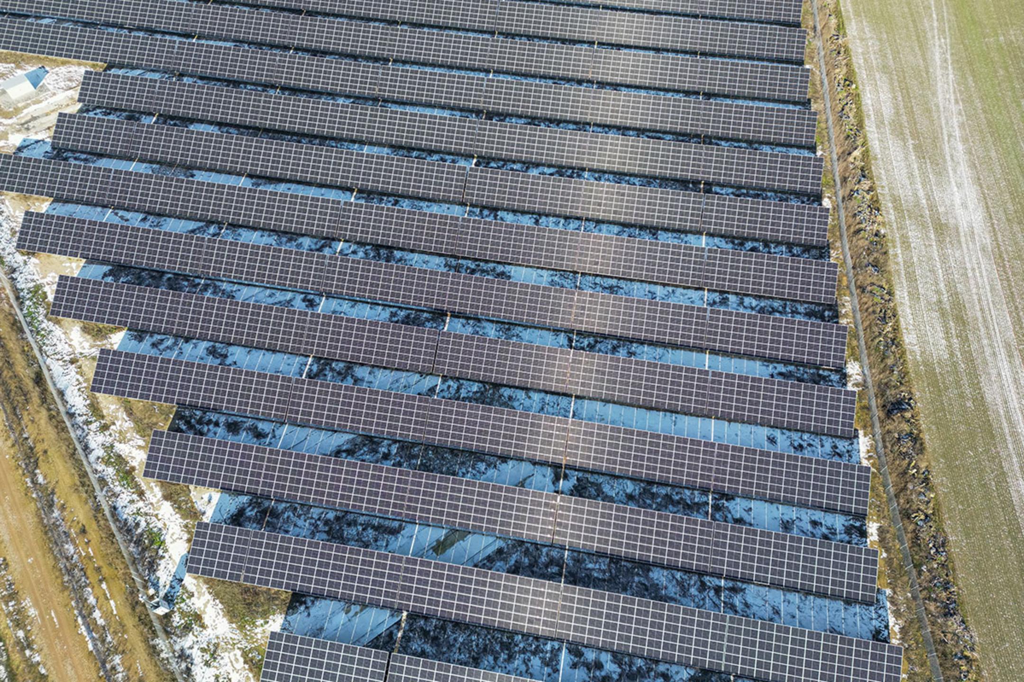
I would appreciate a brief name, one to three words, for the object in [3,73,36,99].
shed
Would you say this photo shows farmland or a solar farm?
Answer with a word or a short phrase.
solar farm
